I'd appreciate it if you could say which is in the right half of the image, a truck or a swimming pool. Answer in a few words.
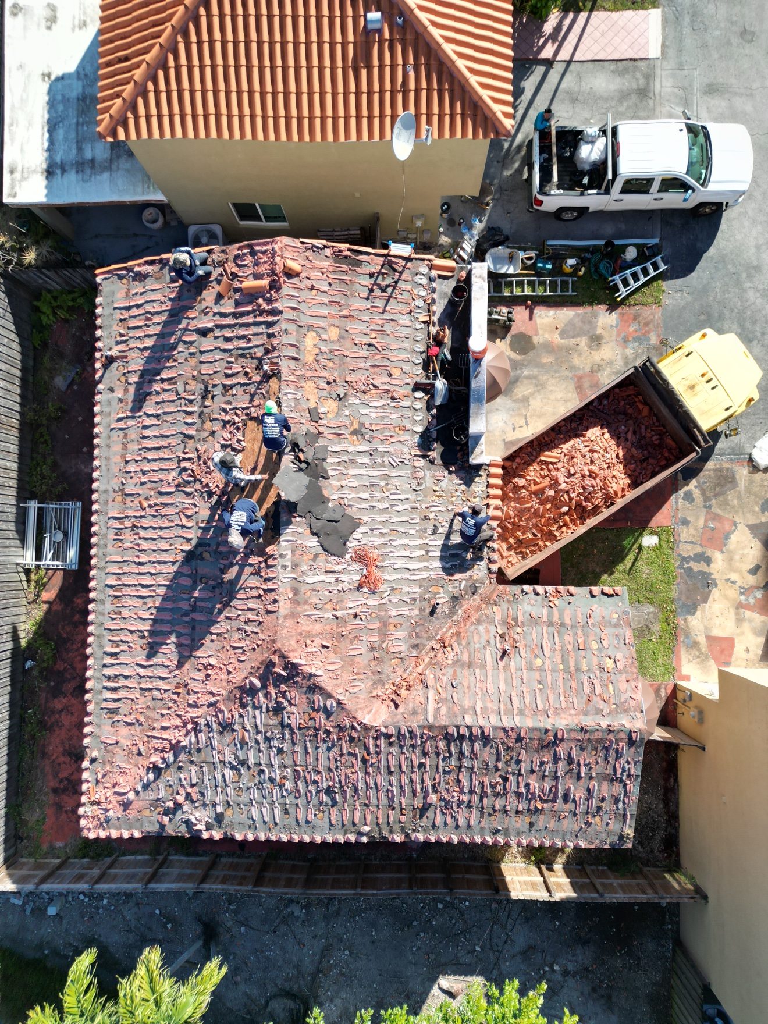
truck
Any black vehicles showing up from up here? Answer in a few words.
No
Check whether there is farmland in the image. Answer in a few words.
No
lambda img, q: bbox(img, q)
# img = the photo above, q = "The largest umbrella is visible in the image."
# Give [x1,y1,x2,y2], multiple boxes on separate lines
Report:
[487,343,521,406]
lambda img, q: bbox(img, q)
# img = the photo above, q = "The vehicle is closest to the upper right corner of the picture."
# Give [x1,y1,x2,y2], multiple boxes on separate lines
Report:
[521,106,754,216]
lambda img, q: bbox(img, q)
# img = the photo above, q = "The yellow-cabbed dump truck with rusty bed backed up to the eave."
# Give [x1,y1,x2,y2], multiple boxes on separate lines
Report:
[486,328,764,580]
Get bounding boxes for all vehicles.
[486,328,764,580]
[521,106,754,216]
